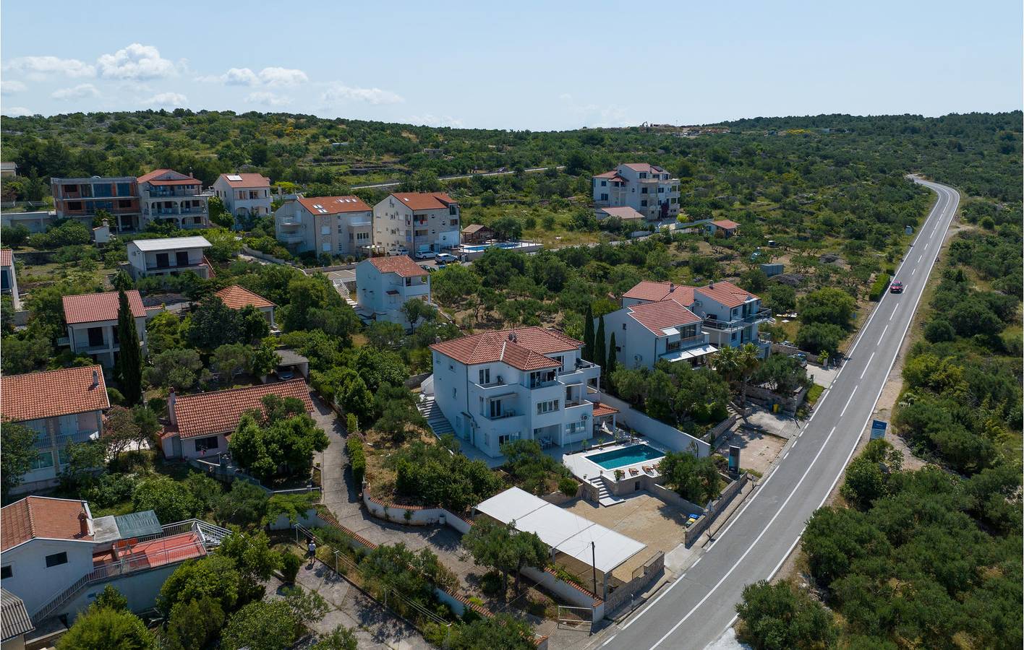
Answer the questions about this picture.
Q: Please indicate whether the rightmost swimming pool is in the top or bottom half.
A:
bottom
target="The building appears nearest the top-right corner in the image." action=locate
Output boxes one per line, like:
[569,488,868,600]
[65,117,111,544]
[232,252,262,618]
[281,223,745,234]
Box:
[709,217,741,235]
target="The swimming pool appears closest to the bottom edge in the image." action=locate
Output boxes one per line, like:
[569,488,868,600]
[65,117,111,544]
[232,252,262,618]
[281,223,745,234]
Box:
[582,442,671,471]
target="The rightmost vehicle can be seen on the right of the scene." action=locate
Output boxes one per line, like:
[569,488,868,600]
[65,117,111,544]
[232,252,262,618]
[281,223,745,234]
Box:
[889,279,904,291]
